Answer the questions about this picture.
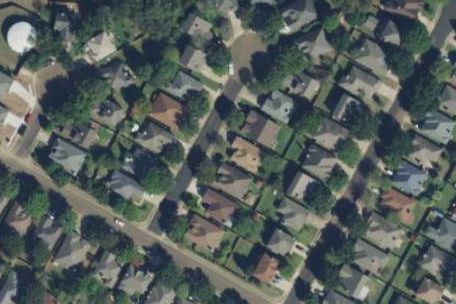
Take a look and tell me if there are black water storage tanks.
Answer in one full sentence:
No, there appears to be no black water storage tank in this shot.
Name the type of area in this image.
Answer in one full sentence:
This looks like a residential area.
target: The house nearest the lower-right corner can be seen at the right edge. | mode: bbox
[414,274,446,304]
